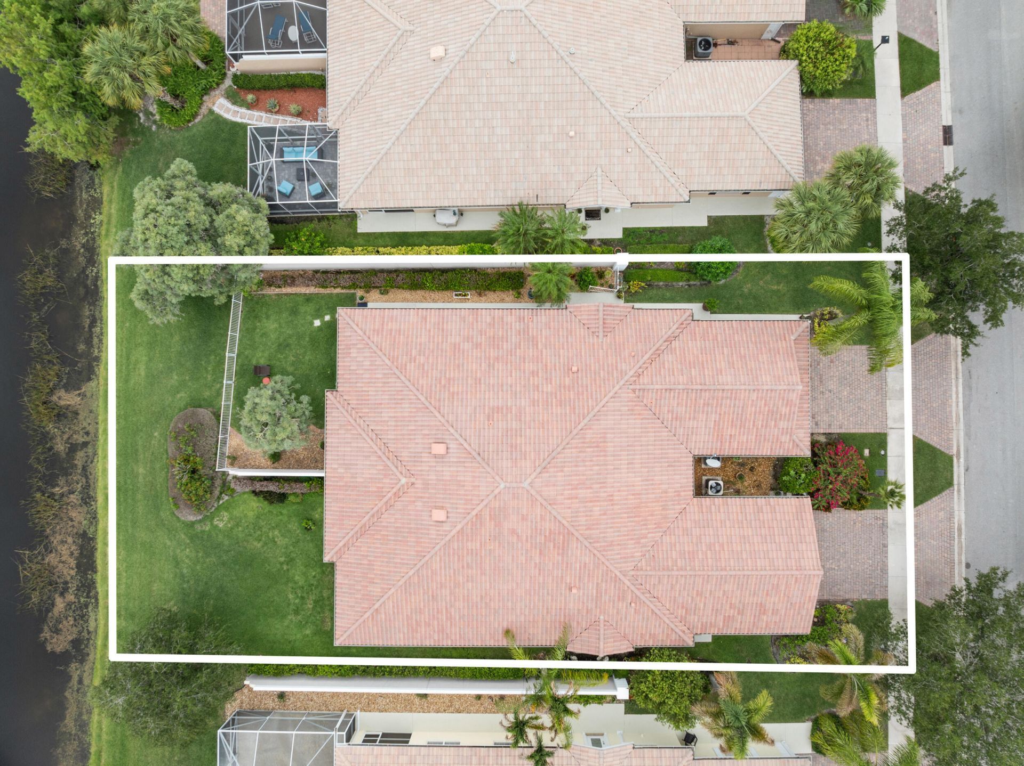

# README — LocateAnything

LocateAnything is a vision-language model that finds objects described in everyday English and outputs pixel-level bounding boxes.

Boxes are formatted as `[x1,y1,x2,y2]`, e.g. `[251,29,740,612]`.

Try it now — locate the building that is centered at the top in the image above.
[324,0,807,217]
